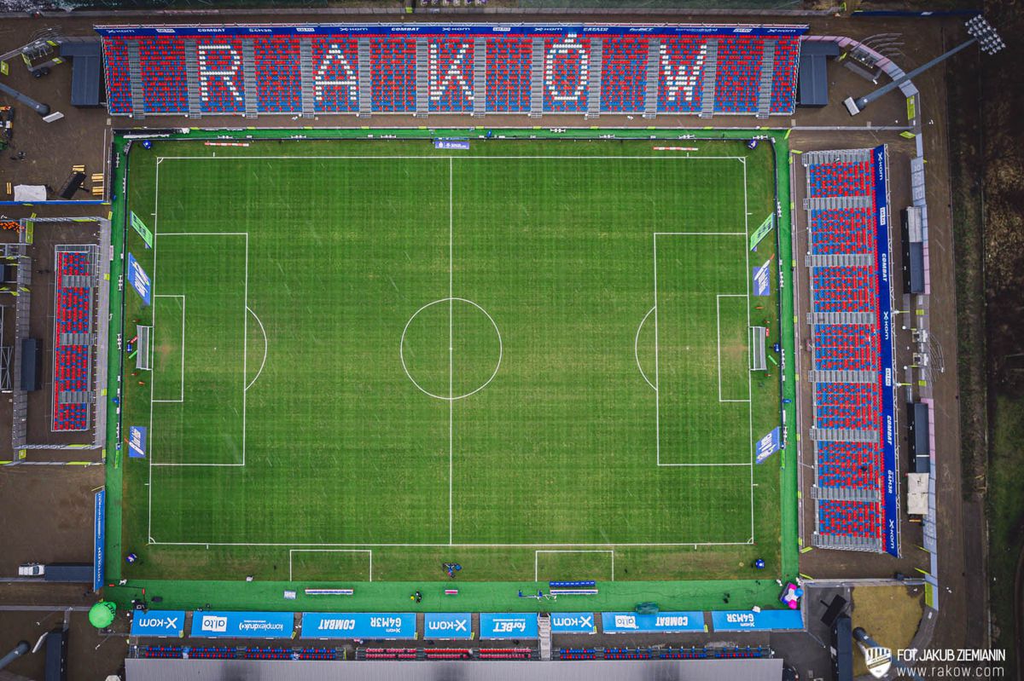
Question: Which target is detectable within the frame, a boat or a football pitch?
football pitch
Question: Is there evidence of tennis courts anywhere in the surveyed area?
No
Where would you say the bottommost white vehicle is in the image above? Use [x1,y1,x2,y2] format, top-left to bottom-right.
[18,563,47,577]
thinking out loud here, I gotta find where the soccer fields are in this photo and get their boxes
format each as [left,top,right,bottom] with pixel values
[121,140,782,583]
